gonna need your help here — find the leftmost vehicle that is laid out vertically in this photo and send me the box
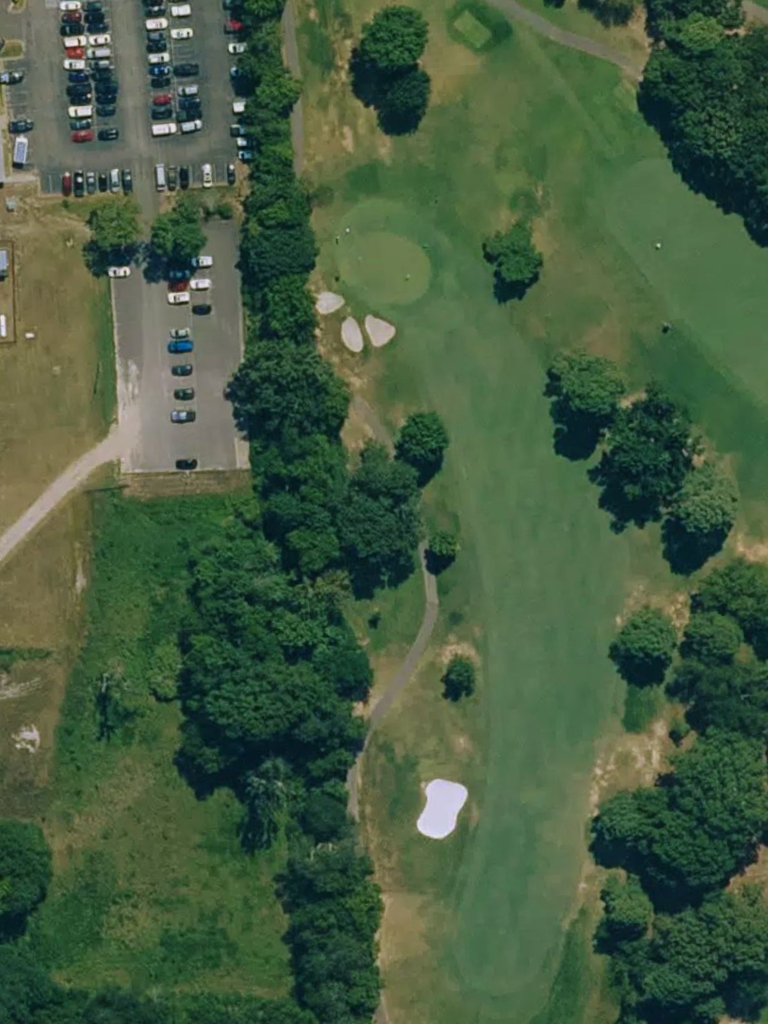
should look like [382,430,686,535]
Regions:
[14,136,27,166]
